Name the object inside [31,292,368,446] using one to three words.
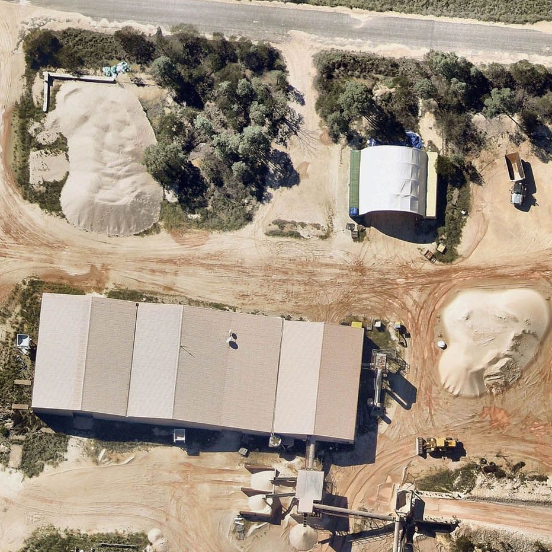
shed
